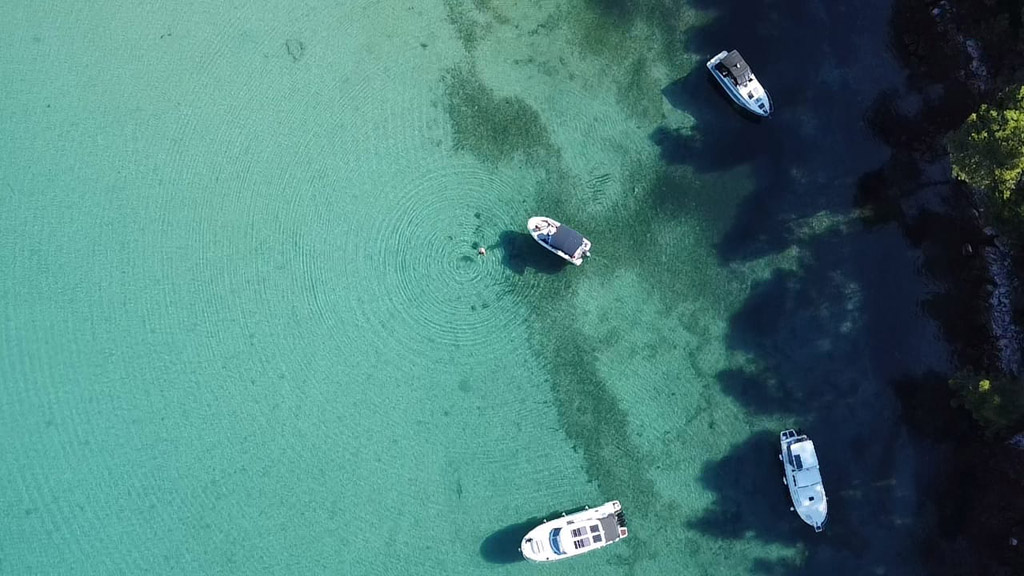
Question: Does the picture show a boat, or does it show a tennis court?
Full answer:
There is a boat in the scene.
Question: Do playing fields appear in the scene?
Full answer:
No, this view has no playing field in it.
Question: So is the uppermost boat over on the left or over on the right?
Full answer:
The uppermost boat is on the right side of the image.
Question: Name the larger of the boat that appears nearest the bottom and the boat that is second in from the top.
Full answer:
The boat that appears nearest the bottom is larger than the boat that is second in from the top.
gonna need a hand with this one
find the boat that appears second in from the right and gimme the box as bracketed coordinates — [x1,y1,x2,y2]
[707,51,771,117]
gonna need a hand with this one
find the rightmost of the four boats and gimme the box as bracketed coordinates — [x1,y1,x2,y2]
[776,429,830,532]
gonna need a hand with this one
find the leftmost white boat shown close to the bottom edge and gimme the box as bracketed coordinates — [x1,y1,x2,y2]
[518,501,629,561]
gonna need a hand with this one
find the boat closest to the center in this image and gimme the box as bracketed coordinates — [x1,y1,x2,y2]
[528,217,590,262]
